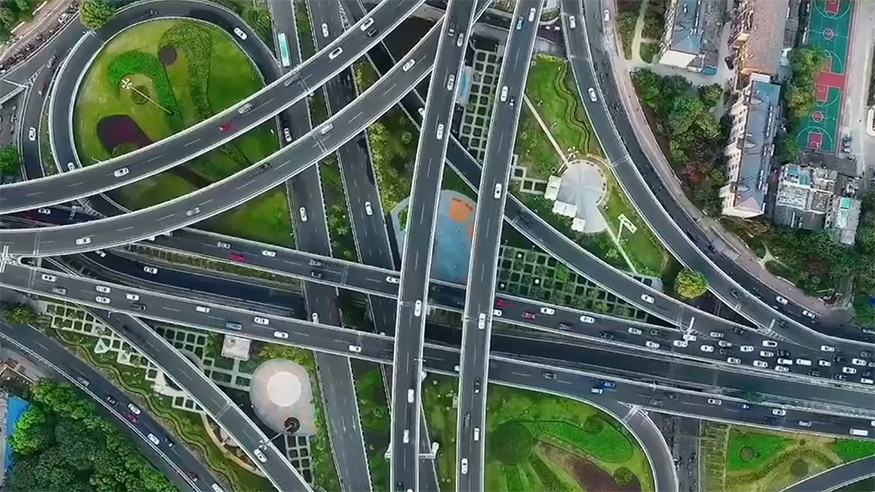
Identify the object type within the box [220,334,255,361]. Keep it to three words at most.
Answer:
building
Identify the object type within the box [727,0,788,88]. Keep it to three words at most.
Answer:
building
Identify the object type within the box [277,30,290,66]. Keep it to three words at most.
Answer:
vehicle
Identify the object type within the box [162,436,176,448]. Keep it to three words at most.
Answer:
vehicle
